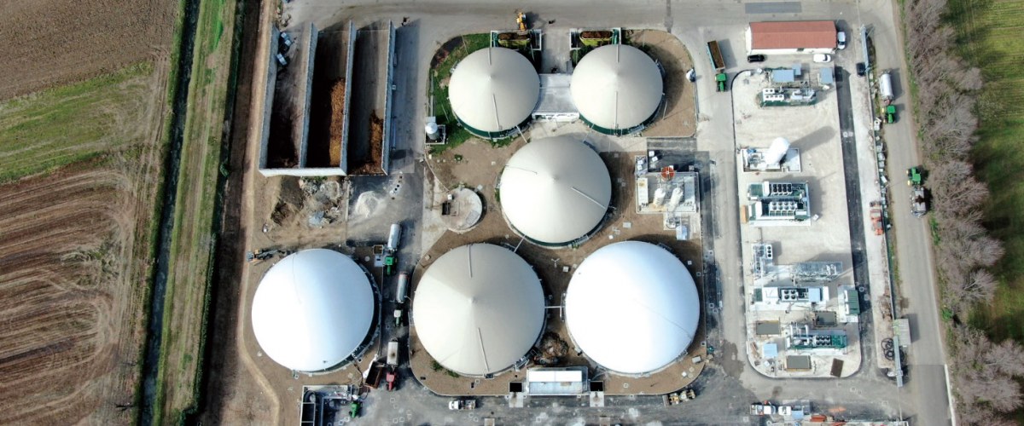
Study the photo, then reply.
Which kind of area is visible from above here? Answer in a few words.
industrial area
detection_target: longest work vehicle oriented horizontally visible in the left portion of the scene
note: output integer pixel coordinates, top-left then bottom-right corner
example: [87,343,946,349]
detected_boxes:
[240,246,287,262]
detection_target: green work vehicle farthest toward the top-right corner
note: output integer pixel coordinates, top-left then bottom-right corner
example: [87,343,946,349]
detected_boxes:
[884,105,898,127]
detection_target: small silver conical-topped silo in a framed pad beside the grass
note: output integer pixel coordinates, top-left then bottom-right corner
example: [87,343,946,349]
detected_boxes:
[423,120,446,145]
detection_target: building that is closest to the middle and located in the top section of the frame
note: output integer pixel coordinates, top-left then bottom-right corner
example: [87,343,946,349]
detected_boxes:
[533,73,579,123]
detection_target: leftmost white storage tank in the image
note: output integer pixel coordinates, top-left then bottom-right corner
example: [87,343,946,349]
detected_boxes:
[250,248,383,375]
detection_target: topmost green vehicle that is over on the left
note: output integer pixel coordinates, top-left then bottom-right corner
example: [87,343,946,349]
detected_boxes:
[384,254,396,274]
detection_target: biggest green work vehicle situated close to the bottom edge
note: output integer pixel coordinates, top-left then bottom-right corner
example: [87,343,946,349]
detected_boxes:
[347,401,359,422]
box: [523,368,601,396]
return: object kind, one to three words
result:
building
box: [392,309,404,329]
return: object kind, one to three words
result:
vehicle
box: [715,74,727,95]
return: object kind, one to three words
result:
vehicle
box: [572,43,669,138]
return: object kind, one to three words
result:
storage tank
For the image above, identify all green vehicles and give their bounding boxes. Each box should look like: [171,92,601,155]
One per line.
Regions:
[384,254,396,274]
[347,401,359,422]
[715,74,727,95]
[884,105,898,127]
[908,168,923,189]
